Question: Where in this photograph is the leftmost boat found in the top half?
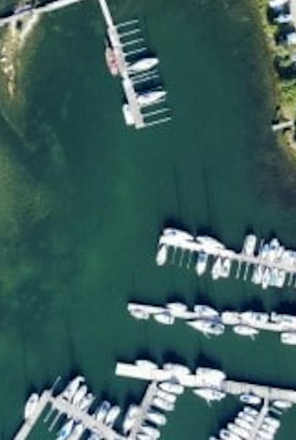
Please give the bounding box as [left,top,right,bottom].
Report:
[106,49,119,78]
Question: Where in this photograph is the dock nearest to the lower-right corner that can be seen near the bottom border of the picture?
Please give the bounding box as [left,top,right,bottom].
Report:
[248,396,270,440]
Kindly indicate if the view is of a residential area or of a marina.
marina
